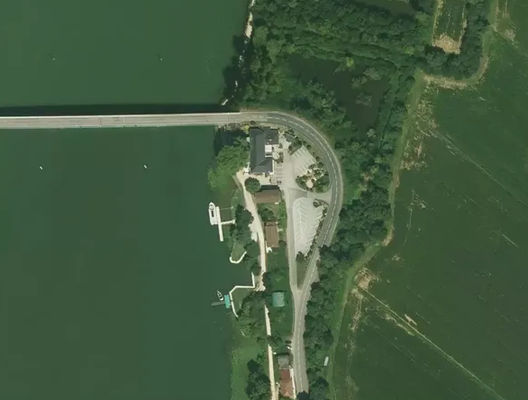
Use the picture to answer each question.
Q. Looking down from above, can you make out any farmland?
Yes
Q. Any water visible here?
Yes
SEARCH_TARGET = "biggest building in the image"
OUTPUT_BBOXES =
[250,128,279,173]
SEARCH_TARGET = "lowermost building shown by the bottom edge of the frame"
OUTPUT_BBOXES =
[280,369,295,397]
